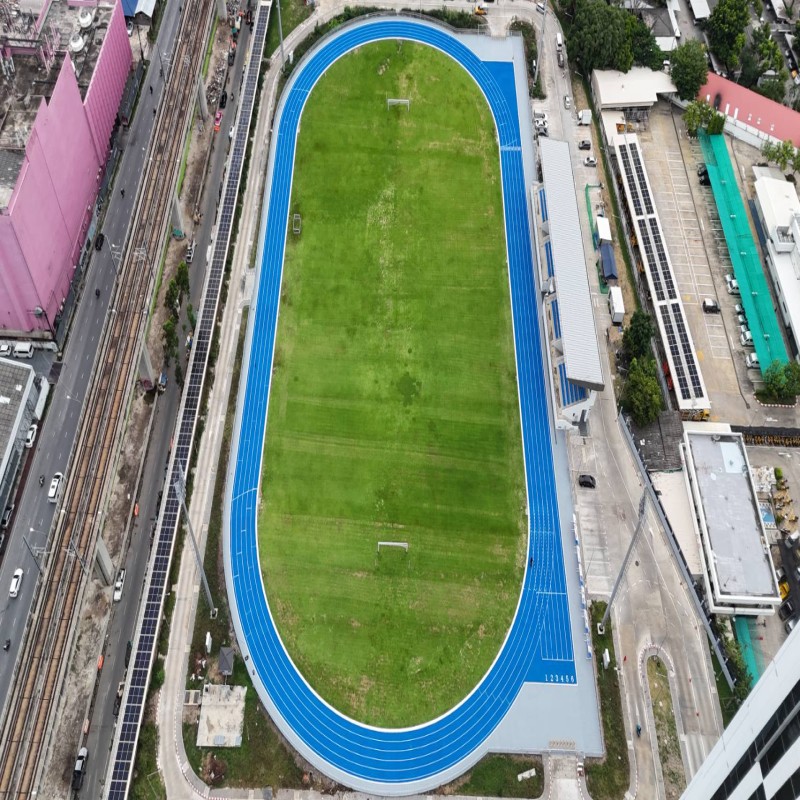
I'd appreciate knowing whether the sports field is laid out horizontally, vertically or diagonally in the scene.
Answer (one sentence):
Seen from above, the sports field lies vertically.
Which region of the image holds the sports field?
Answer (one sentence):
The sports field sits in the center section of the image.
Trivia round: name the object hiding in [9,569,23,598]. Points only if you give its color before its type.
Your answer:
white car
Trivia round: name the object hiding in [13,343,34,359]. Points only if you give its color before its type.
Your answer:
white vehicle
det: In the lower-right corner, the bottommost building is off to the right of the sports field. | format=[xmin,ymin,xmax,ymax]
[683,629,800,800]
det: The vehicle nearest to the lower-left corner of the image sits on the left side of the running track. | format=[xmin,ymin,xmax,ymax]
[70,747,89,790]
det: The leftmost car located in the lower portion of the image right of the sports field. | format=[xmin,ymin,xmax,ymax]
[578,473,596,488]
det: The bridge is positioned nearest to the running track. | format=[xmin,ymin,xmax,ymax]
[0,0,229,800]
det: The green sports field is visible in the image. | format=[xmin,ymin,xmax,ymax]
[257,38,528,727]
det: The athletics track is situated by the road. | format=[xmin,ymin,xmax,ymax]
[223,16,604,797]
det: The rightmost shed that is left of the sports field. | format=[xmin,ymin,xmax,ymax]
[219,648,234,684]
